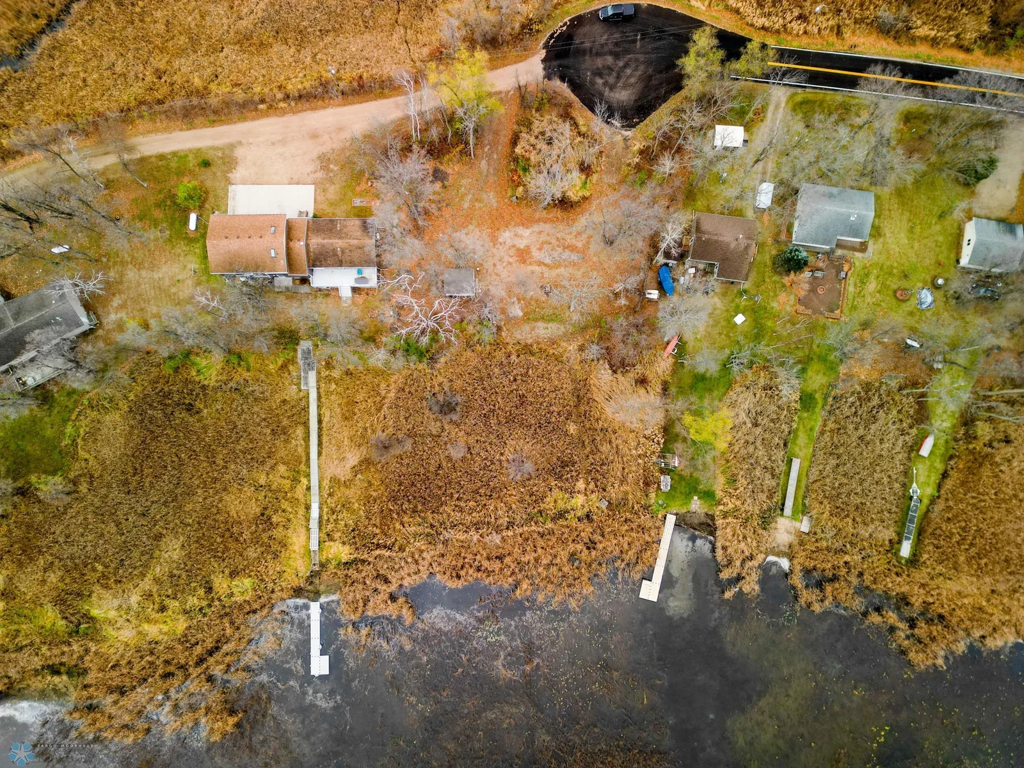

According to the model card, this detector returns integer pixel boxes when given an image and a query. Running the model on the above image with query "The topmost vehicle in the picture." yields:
[600,3,636,21]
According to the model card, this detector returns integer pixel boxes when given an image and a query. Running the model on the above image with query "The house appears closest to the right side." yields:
[956,217,1024,274]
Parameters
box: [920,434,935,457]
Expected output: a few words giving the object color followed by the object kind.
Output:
white boat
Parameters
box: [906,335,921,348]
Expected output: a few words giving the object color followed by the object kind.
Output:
white boat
